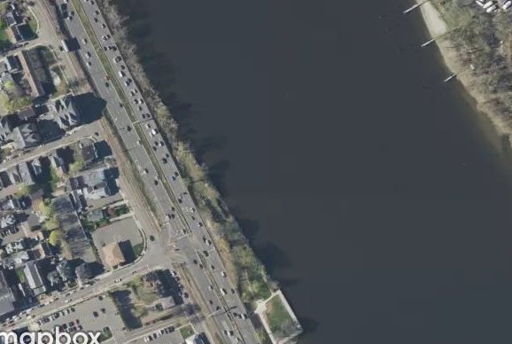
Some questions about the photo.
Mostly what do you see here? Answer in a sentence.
What you mostly see from above here is water.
